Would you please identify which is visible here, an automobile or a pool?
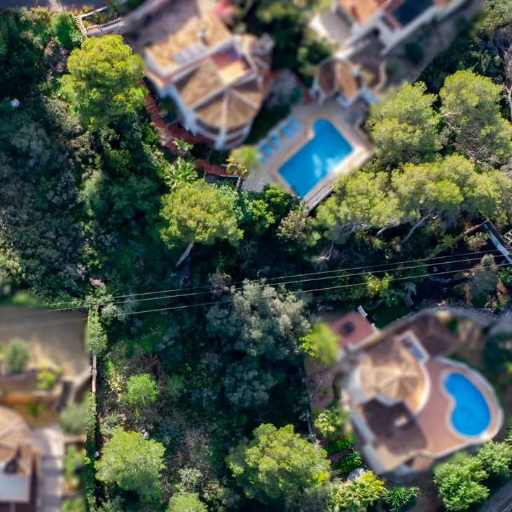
pool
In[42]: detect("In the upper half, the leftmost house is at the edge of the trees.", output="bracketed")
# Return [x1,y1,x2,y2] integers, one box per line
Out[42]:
[138,9,274,159]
